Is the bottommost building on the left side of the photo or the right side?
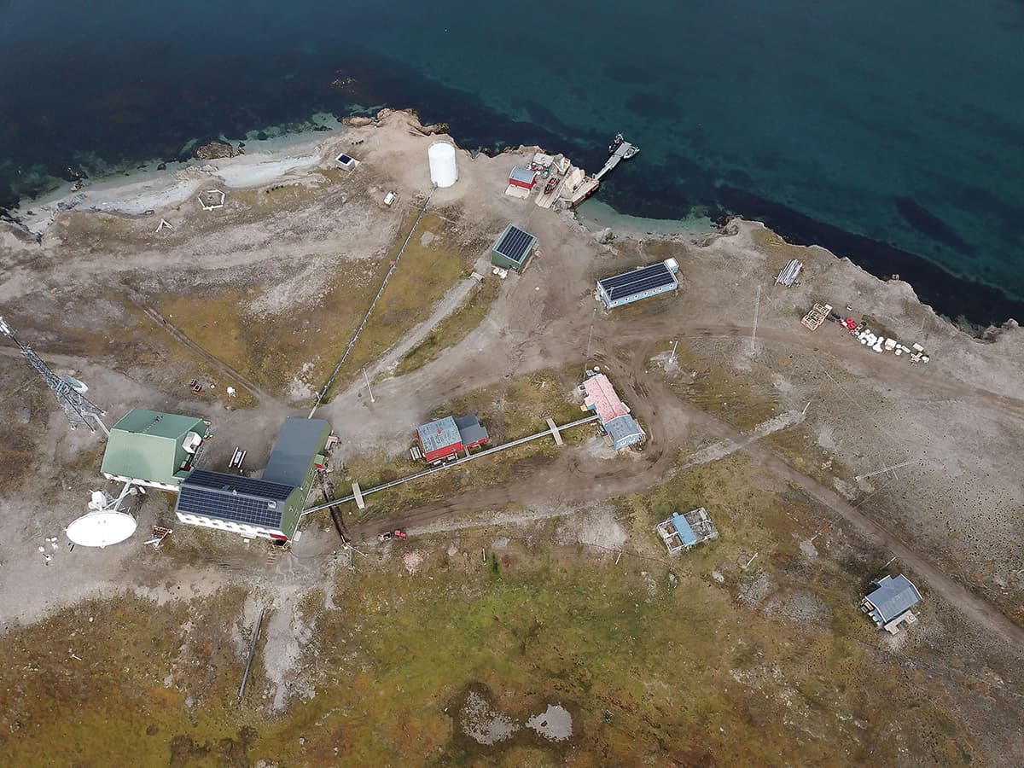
right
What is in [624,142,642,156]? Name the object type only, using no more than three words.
boat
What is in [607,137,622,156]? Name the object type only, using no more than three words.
boat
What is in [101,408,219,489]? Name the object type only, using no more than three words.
building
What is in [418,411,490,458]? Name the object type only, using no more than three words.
house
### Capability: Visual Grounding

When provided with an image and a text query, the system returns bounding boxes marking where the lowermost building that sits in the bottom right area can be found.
[861,572,924,640]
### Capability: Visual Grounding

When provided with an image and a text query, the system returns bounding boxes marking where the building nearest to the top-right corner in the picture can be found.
[593,257,680,311]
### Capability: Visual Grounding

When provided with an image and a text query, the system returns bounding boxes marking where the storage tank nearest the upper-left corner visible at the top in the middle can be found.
[428,137,460,189]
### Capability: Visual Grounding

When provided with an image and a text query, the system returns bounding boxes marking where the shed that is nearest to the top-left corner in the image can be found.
[335,153,360,175]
